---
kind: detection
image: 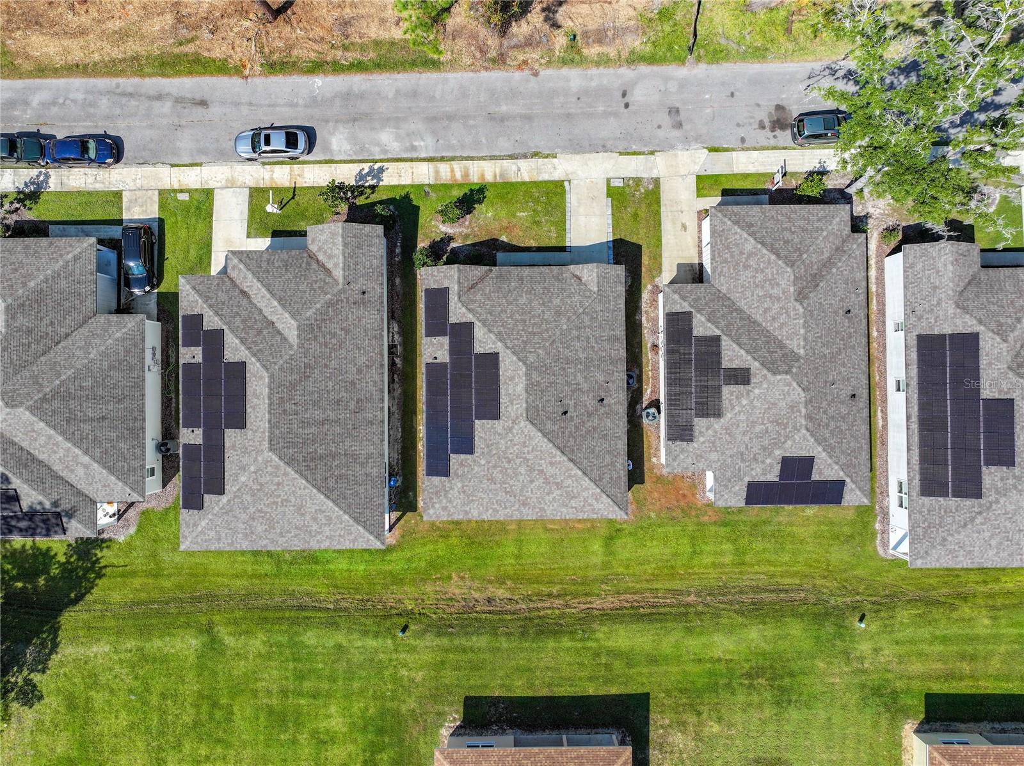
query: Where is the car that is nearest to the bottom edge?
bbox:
[118,222,159,295]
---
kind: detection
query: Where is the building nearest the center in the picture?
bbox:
[420,263,629,521]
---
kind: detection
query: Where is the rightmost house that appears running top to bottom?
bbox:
[888,243,1024,570]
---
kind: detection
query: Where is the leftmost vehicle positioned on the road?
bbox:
[0,132,46,167]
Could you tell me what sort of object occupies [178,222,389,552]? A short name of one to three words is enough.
house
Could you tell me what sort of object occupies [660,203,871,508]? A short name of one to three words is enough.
house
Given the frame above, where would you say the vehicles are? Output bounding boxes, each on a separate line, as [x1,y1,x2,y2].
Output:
[0,132,46,167]
[787,116,854,152]
[235,126,311,162]
[43,135,120,169]
[118,222,159,295]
